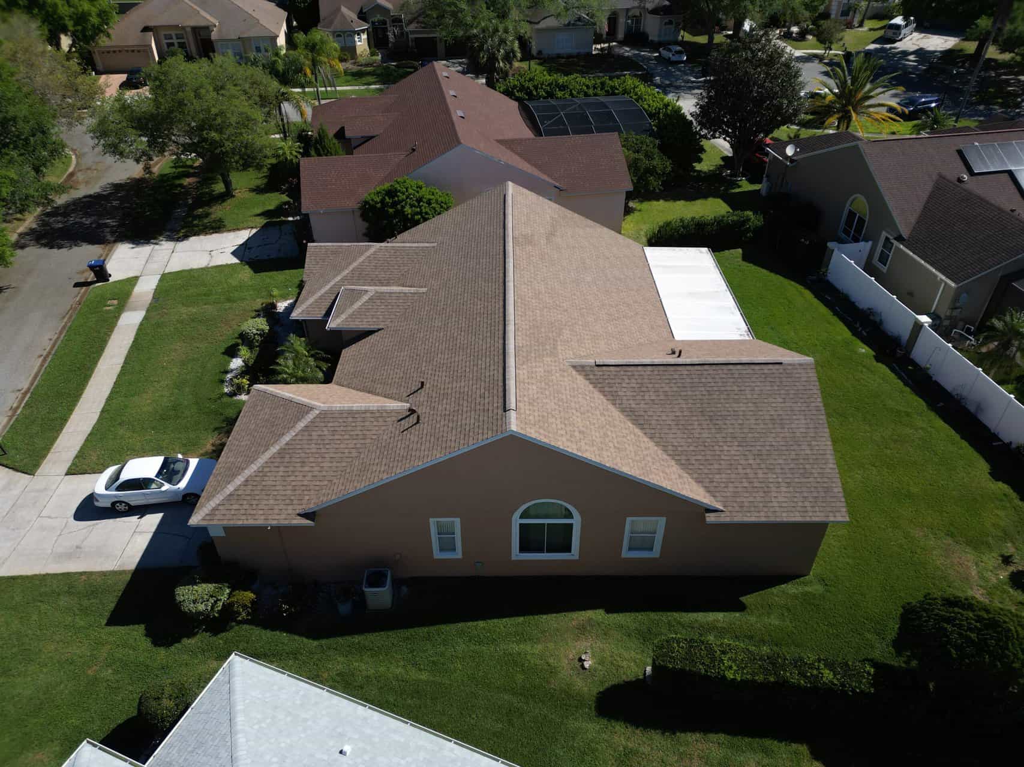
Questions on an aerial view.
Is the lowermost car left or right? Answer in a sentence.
The lowermost car appears in the left half of the scene.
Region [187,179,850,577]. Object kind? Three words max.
house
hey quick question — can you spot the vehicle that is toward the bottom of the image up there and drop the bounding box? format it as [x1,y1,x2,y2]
[89,446,222,507]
